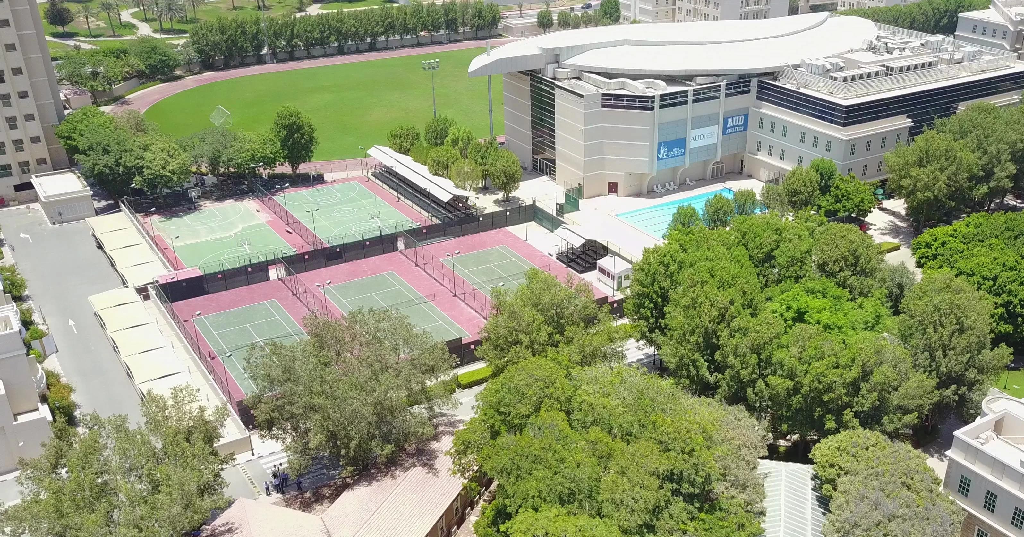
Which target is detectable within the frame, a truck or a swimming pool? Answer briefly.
swimming pool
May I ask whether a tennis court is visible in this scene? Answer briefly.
Yes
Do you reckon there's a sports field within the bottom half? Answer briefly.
No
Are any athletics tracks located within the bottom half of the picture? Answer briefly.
No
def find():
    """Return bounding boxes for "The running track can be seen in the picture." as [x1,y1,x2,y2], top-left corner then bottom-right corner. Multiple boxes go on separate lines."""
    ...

[102,39,513,165]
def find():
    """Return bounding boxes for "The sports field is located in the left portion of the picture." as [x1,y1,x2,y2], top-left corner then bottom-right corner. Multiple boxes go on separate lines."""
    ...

[140,46,513,154]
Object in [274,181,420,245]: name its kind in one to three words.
basketball court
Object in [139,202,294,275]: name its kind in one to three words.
basketball court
